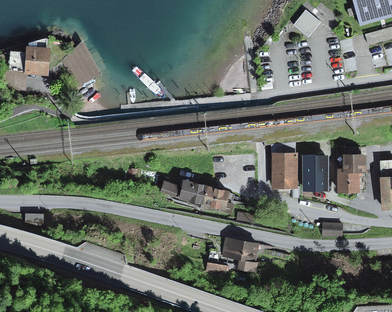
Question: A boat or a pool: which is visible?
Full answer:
The image shows a boat.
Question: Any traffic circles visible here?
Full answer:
No, no traffic circle can be seen from above.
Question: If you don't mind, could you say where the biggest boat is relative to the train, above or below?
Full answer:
In the image, the biggest boat appears above the train.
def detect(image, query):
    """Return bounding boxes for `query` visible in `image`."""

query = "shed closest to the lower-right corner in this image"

[322,222,343,237]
